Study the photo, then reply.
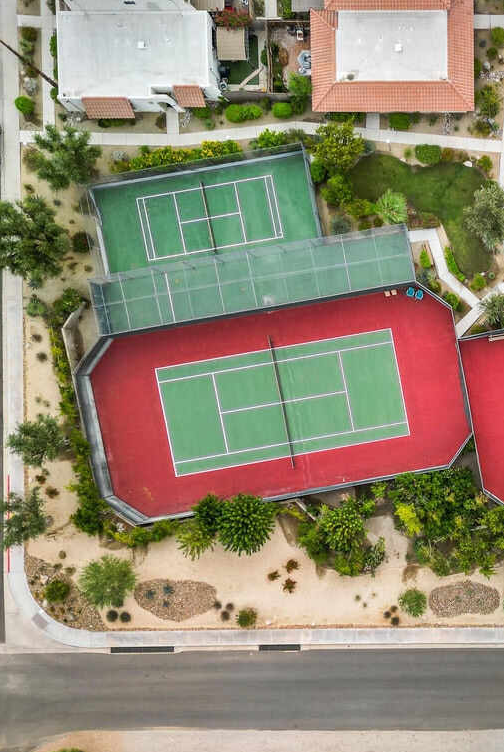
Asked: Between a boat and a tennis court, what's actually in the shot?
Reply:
tennis court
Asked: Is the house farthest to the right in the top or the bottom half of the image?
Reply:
top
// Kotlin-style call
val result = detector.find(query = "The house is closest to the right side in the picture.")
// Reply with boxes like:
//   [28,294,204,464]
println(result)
[311,0,475,115]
